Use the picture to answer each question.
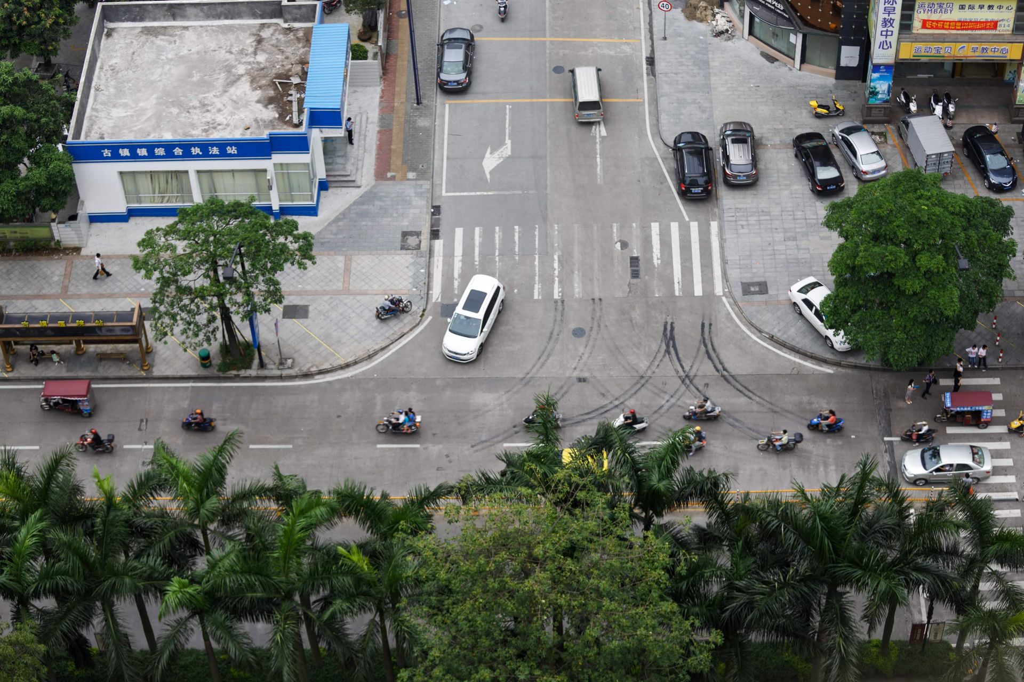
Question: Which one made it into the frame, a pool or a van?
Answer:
van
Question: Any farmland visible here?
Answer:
No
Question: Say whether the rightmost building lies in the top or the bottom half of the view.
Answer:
top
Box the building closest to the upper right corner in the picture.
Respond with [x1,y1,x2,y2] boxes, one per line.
[895,0,1024,83]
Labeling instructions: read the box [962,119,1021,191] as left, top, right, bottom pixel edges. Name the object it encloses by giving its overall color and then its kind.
black car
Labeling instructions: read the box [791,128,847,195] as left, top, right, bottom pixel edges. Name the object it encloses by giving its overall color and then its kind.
black car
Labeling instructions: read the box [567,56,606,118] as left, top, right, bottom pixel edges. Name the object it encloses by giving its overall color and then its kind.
white van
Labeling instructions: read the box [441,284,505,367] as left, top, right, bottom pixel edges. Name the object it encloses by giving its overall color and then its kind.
white car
